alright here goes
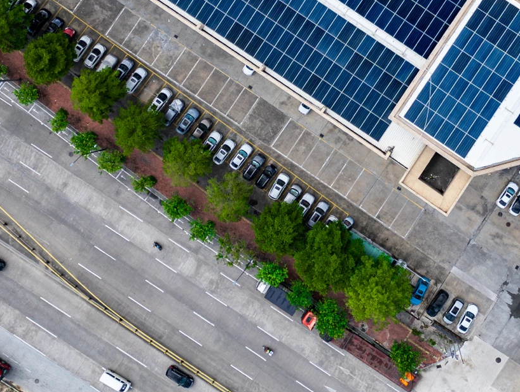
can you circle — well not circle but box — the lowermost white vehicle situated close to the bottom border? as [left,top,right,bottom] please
[98,368,132,392]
